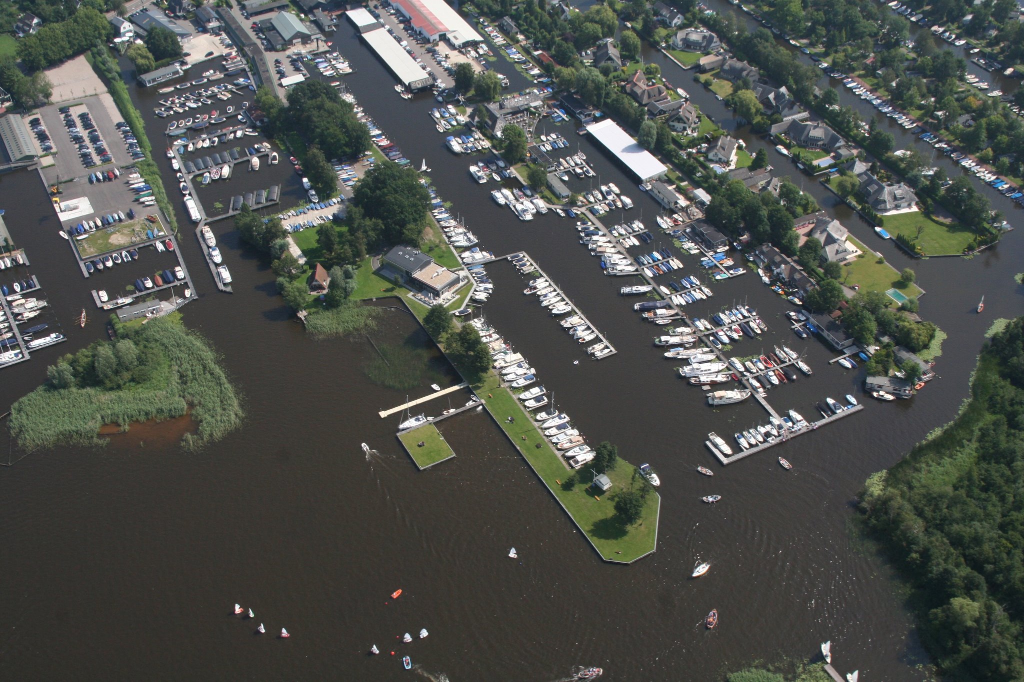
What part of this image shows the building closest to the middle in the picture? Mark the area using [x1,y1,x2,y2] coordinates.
[384,245,456,297]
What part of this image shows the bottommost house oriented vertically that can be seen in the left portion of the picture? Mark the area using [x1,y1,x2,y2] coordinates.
[307,258,330,298]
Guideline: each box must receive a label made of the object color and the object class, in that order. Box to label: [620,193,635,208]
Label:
white boat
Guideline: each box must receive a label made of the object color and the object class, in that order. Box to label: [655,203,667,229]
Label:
white boat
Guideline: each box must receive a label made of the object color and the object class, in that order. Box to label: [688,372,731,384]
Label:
white ship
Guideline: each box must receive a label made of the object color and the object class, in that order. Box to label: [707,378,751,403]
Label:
white ship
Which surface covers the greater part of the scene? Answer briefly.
water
